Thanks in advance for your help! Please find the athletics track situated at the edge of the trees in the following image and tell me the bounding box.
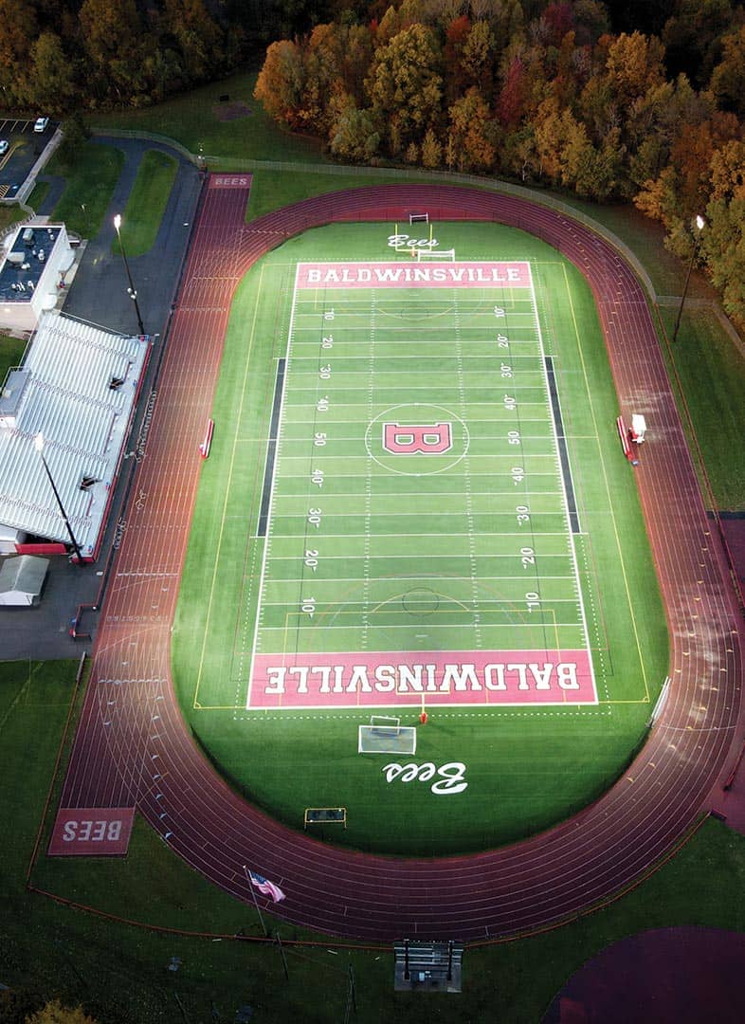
[43,174,745,944]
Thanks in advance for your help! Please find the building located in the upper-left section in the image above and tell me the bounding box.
[0,226,68,328]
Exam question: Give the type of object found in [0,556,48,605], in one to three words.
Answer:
shed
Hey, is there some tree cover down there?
Yes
